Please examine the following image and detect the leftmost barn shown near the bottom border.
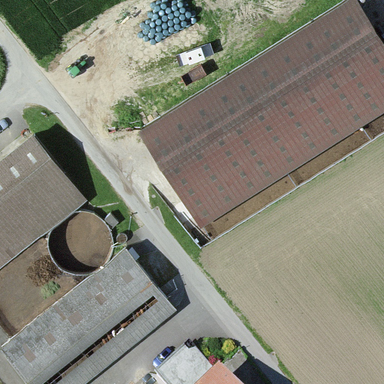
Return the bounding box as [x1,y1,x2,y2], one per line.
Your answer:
[2,247,176,384]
